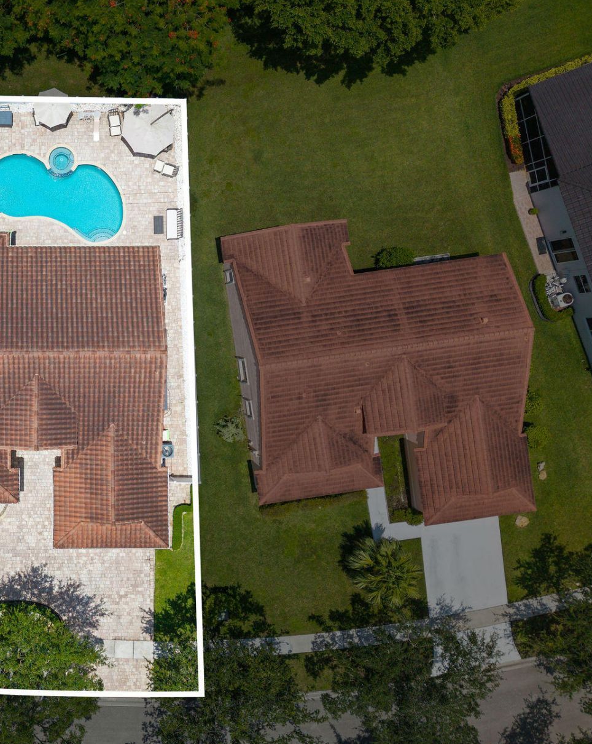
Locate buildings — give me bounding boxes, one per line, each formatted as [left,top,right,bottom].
[0,231,172,551]
[217,220,538,527]
[528,62,592,378]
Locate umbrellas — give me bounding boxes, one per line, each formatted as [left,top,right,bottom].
[30,86,75,131]
[121,103,180,159]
